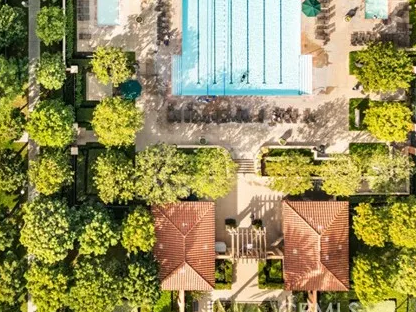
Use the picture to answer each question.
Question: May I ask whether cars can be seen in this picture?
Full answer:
No, the photo shows no car.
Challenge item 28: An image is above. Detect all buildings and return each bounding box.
[281,200,350,292]
[153,201,215,291]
